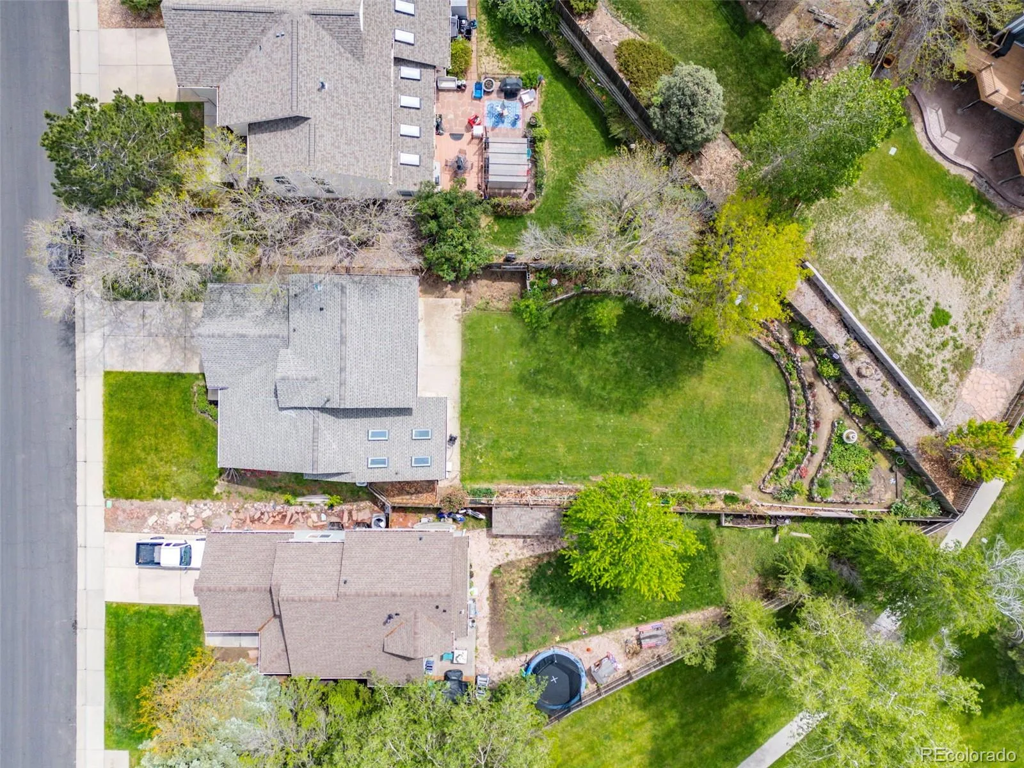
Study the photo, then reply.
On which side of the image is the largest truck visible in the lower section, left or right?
left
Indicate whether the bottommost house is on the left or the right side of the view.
left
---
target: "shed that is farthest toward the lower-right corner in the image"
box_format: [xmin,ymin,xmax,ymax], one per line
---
[492,503,564,536]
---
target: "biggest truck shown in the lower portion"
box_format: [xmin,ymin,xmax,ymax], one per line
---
[136,533,206,567]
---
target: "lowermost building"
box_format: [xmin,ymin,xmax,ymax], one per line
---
[192,527,471,688]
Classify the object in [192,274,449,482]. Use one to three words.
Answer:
house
